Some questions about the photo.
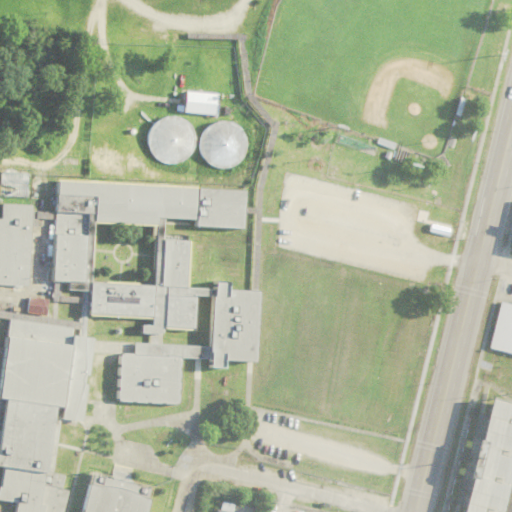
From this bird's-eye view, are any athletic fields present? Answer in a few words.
Yes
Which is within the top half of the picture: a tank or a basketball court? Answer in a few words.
tank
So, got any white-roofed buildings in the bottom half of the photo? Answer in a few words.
Yes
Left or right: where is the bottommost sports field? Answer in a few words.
right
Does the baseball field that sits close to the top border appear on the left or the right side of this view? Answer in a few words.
right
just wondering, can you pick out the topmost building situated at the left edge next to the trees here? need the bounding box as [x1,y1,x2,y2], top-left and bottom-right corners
[0,170,32,198]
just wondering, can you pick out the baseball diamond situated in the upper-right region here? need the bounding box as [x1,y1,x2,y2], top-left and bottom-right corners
[254,0,498,156]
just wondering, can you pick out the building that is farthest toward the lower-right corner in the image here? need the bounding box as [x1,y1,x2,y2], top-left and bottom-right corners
[462,395,512,512]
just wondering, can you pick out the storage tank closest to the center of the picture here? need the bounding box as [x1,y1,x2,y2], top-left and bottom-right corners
[199,120,248,170]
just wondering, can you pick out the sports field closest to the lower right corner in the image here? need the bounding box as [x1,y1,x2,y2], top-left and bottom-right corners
[251,247,445,442]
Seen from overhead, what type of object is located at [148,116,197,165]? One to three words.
storage tank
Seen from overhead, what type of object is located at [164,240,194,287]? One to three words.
building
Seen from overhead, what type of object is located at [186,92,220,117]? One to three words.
shed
